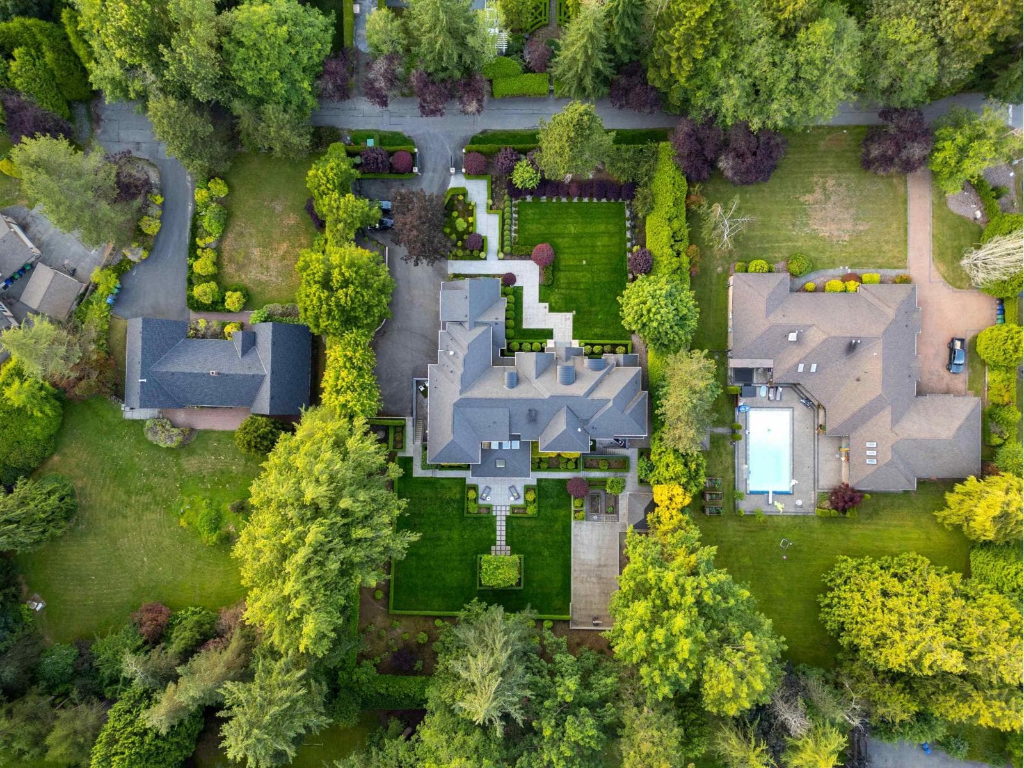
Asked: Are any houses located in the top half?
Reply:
Yes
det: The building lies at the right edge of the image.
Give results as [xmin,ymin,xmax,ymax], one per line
[730,272,981,491]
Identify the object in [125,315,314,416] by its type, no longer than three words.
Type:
house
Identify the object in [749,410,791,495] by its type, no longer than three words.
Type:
swimming pool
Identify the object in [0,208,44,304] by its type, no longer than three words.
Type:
house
